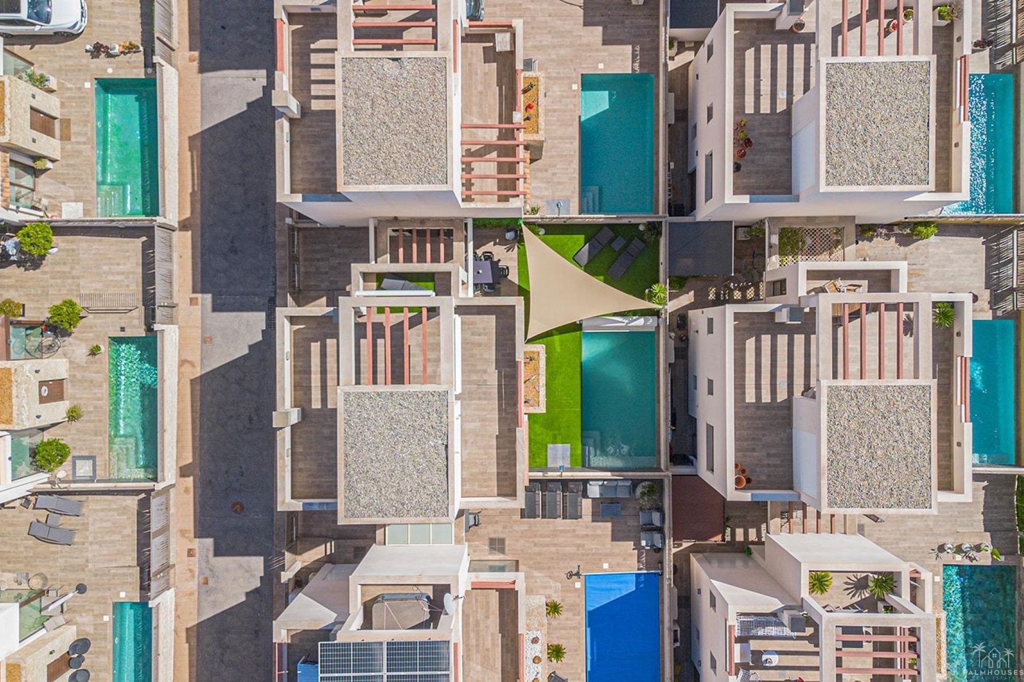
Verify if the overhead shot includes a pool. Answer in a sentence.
Yes, the frame does contain a pool.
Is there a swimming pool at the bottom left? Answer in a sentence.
Yes, a swimming pool appears at the bottom left.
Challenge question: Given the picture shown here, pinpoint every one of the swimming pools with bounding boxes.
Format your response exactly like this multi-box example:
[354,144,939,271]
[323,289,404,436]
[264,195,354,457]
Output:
[960,318,1015,462]
[110,600,156,682]
[93,76,156,216]
[941,563,1014,682]
[580,329,657,467]
[583,571,662,682]
[939,71,1015,215]
[106,334,156,477]
[579,71,656,215]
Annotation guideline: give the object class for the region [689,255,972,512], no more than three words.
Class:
house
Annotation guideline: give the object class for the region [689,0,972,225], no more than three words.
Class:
house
